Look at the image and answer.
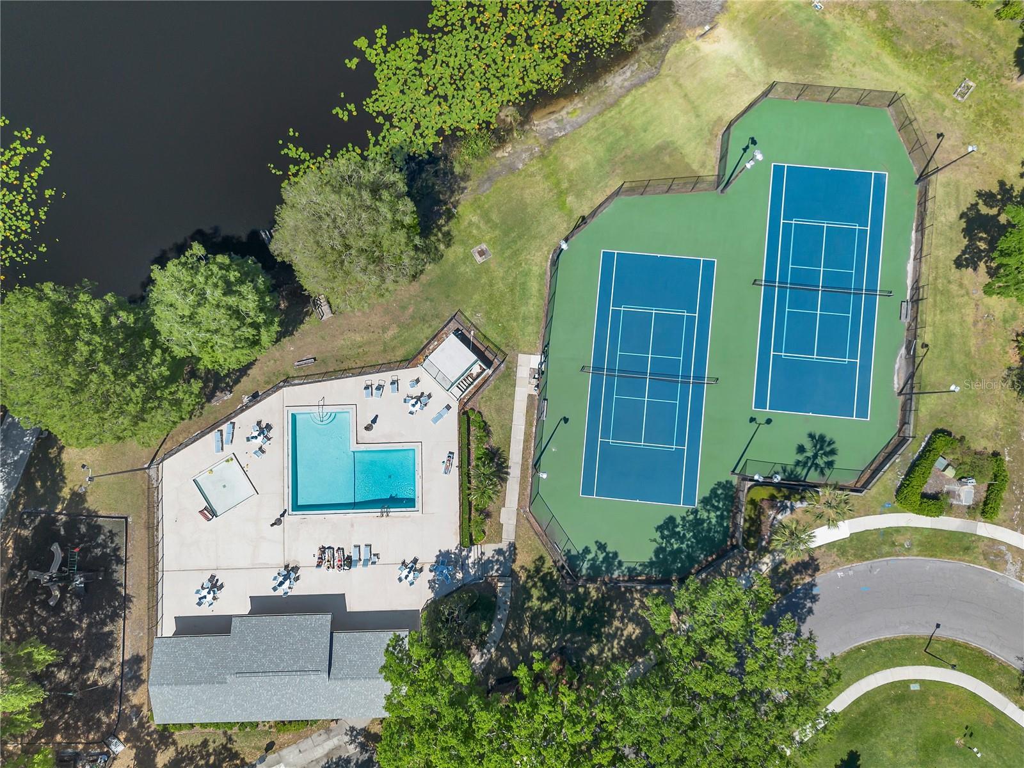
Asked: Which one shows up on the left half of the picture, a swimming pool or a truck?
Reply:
swimming pool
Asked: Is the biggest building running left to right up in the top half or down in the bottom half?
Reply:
bottom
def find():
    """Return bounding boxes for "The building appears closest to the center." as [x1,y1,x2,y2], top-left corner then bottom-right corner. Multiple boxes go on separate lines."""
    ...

[423,333,490,401]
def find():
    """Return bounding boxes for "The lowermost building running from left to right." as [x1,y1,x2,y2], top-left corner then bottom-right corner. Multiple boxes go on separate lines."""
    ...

[148,612,413,722]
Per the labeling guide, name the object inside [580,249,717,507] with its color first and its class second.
blue tennis court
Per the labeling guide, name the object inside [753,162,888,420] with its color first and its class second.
blue tennis court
